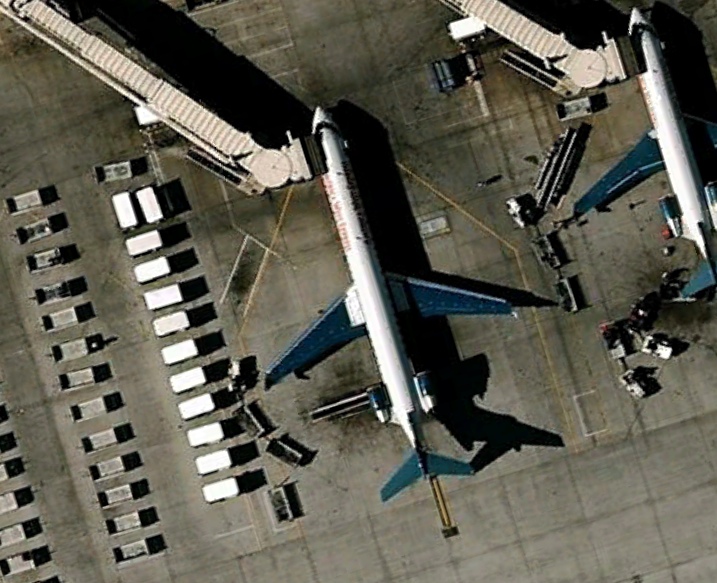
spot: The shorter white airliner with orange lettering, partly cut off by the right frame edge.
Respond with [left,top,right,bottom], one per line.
[572,8,717,303]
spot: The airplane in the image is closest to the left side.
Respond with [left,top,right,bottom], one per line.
[263,107,515,502]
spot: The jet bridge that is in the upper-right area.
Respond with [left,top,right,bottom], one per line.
[453,0,645,96]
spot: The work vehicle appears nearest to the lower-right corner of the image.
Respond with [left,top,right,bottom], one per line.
[621,368,650,395]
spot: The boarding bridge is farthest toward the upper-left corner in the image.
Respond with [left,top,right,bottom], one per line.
[0,0,326,195]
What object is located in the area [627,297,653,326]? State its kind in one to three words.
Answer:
work vehicle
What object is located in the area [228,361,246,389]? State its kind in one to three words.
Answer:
work vehicle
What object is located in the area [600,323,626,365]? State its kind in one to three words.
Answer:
truck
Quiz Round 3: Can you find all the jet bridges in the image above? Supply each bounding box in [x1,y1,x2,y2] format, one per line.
[0,0,326,195]
[453,0,645,96]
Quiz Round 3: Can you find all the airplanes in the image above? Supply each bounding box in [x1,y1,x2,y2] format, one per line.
[263,107,515,502]
[572,8,717,303]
